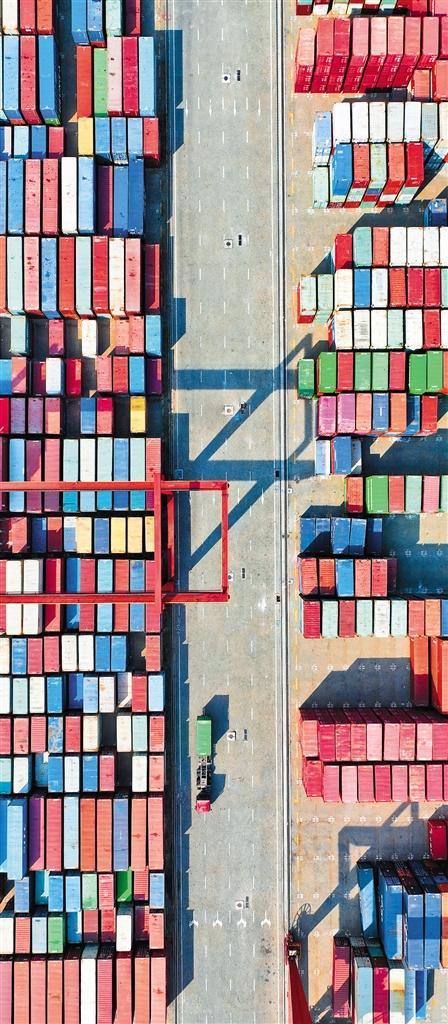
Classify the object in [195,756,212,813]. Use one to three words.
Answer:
vehicle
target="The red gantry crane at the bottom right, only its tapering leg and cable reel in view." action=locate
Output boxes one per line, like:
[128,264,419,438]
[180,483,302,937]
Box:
[285,926,312,1024]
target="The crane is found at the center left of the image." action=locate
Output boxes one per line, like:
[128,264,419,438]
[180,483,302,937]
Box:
[0,474,232,614]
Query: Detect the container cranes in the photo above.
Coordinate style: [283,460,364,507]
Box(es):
[0,474,232,614]
[285,926,312,1024]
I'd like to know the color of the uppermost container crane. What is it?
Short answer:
red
